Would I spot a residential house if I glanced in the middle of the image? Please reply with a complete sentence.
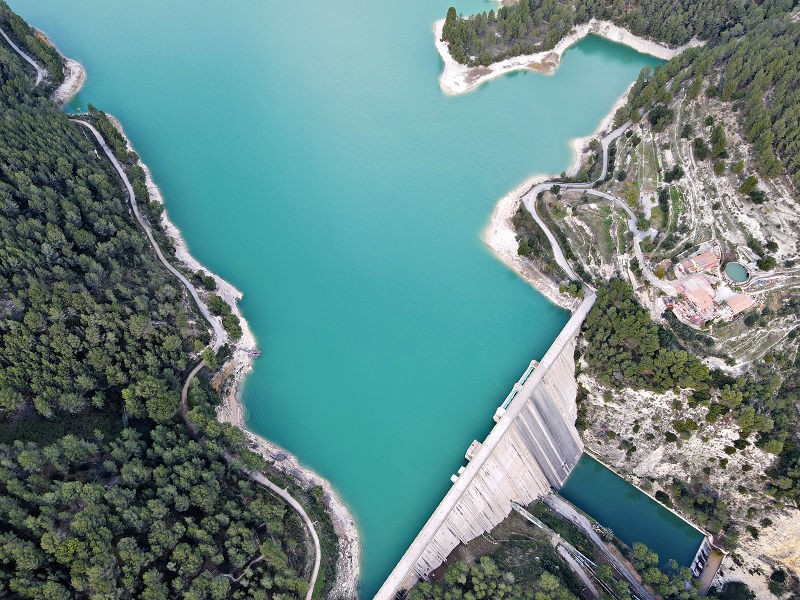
No, no residential house appears in the middle of the image.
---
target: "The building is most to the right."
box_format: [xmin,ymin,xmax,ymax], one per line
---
[726,294,754,316]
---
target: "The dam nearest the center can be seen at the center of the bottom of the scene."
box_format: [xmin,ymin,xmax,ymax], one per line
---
[372,292,595,600]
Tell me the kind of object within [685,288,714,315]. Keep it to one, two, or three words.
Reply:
house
